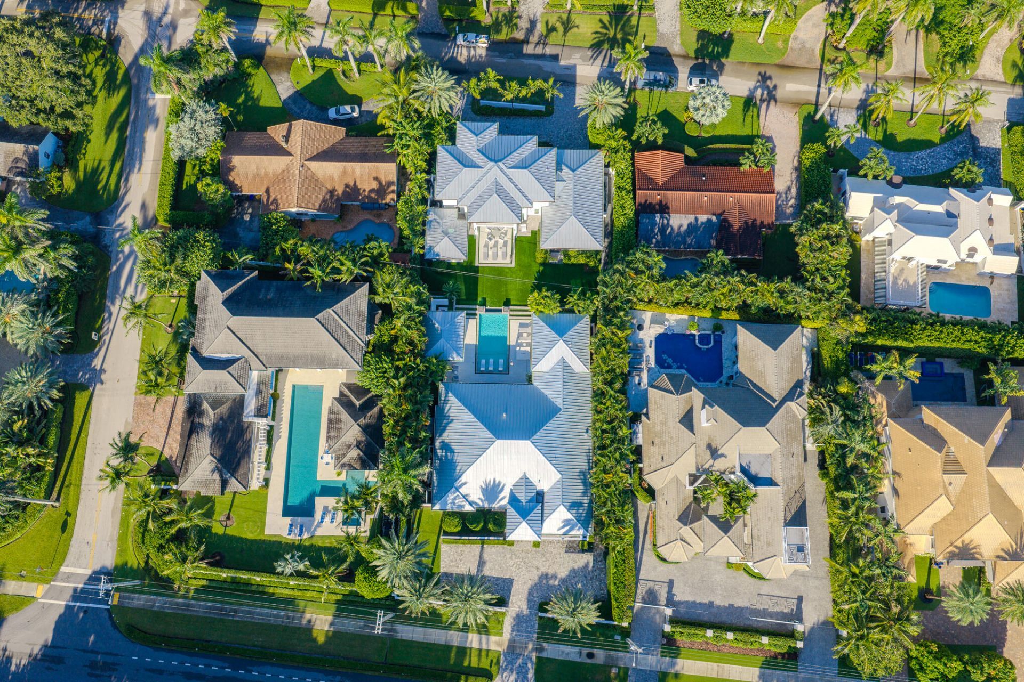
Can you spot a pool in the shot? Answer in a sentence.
Yes, there's a pool here.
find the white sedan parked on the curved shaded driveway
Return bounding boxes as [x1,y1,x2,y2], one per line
[328,104,359,120]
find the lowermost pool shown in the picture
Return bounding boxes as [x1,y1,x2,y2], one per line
[340,515,363,529]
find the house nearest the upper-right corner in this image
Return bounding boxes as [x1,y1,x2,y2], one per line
[839,171,1020,308]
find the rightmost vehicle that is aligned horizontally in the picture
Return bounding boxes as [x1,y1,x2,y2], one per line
[689,76,719,91]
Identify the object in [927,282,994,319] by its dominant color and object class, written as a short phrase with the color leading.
blue swimming pool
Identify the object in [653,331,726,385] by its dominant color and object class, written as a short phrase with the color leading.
blue swimming pool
